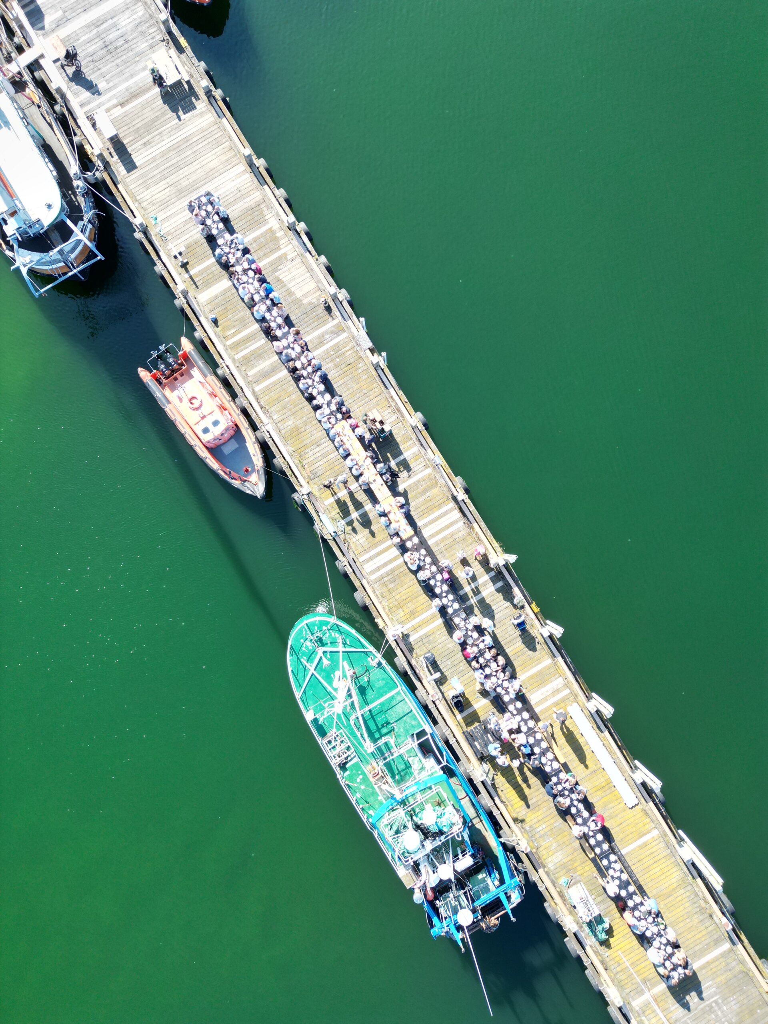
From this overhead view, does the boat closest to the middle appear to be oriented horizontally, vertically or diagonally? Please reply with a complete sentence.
In this picture, the boat closest to the middle is oriented diagonally.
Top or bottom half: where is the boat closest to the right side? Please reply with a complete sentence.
The boat closest to the right side is in the bottom half of the image.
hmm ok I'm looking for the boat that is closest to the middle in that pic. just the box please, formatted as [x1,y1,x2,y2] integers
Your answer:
[142,340,270,501]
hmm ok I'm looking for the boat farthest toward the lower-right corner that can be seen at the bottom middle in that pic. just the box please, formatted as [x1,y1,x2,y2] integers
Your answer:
[286,613,528,1018]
